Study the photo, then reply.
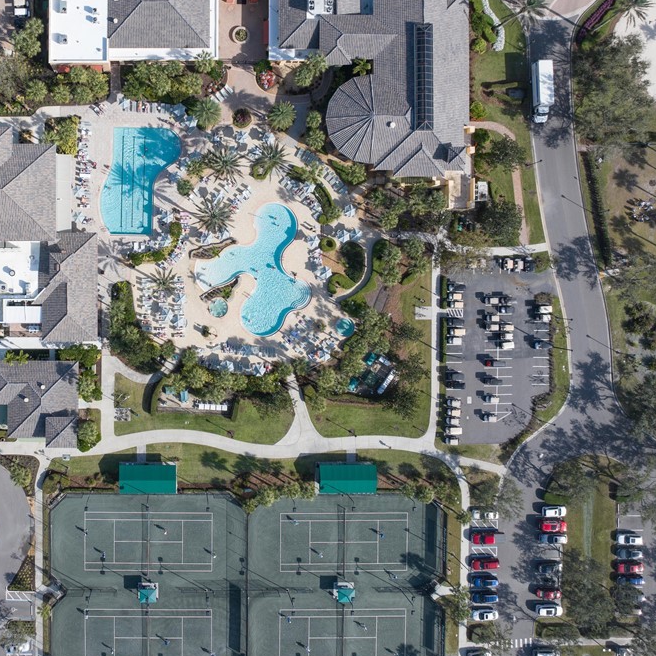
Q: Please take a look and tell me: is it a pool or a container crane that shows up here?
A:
pool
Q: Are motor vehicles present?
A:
Yes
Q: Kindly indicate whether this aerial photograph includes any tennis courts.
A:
Yes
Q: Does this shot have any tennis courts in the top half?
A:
No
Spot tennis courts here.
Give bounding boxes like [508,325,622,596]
[247,591,442,656]
[51,494,247,591]
[51,591,247,656]
[247,495,447,591]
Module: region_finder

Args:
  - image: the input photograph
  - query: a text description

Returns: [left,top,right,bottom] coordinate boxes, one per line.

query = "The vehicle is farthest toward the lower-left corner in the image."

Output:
[6,640,32,654]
